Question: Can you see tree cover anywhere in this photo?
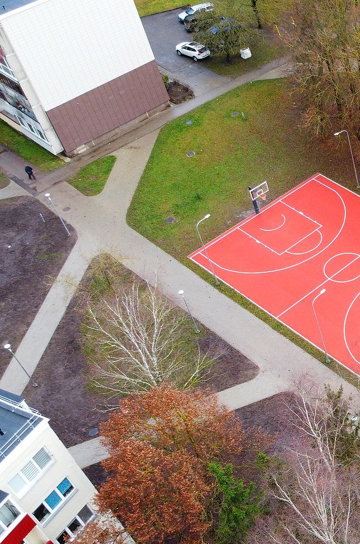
Yes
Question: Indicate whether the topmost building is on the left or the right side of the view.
left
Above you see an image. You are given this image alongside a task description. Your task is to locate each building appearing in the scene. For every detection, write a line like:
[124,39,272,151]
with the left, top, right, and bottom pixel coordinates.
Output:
[0,389,136,544]
[0,0,174,160]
